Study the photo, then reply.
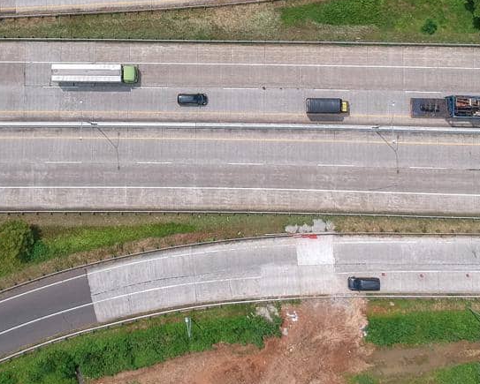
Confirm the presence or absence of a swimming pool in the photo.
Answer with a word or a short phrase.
No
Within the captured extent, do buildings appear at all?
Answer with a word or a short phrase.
No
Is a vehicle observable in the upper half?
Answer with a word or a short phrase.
Yes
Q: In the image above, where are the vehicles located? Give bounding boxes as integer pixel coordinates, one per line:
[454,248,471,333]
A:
[347,276,382,293]
[305,97,350,114]
[51,64,140,85]
[410,97,480,118]
[176,93,207,106]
